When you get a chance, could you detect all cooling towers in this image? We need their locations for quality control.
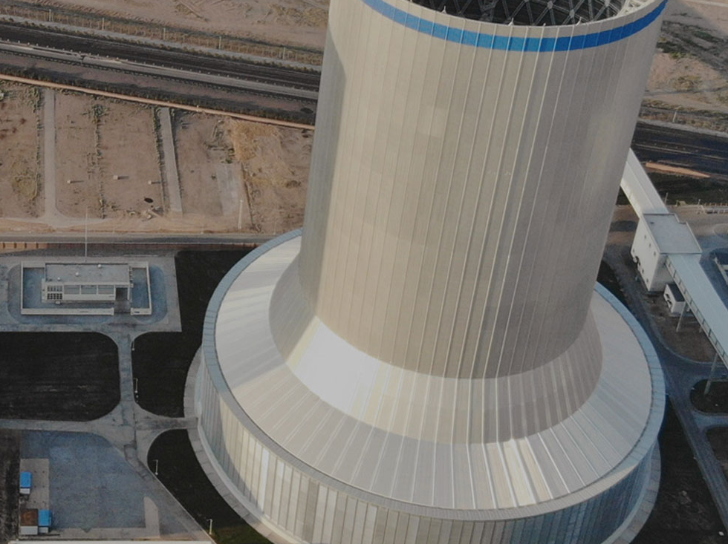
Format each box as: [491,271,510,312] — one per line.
[195,0,668,544]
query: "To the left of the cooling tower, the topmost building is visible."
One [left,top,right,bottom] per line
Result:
[39,260,133,301]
